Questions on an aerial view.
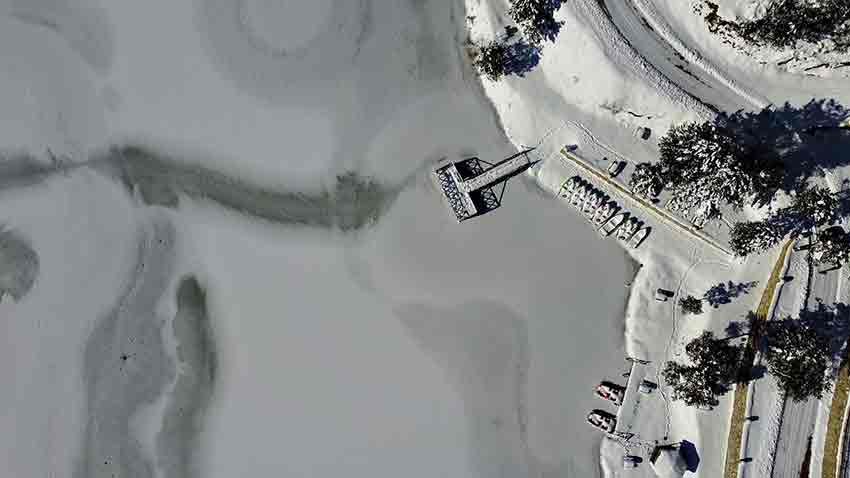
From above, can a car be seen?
No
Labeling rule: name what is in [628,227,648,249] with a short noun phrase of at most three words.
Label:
boat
